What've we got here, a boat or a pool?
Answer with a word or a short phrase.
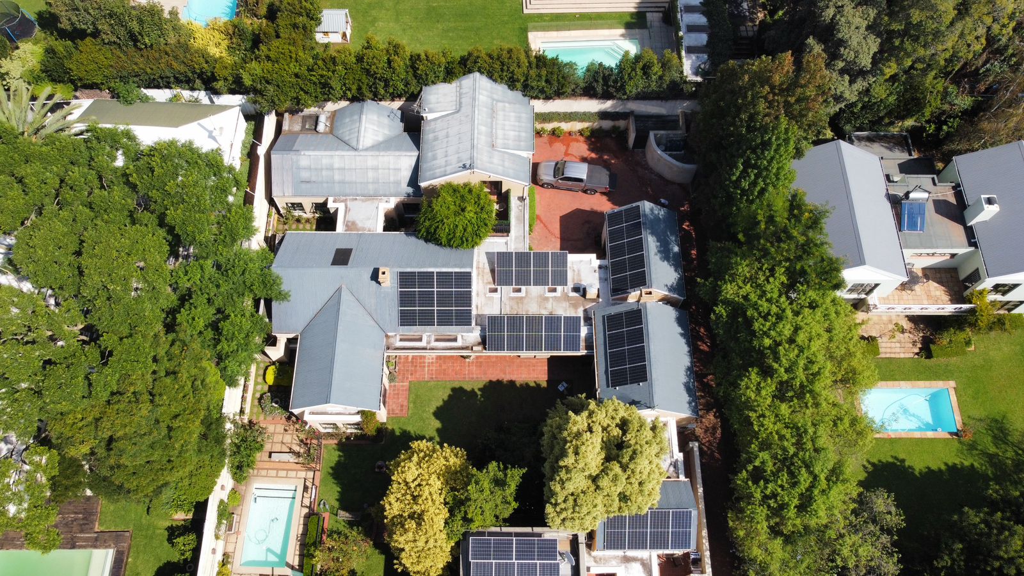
pool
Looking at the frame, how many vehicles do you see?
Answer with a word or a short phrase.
1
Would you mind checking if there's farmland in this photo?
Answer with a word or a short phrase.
No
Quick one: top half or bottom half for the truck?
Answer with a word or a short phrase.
top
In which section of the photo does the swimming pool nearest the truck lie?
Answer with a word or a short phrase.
top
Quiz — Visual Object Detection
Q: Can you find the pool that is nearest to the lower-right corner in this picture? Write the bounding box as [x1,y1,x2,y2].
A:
[853,380,970,441]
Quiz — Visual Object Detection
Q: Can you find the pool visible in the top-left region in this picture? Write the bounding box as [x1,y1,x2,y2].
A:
[176,0,239,24]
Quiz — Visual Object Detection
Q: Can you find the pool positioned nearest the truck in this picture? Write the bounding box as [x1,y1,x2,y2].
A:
[536,36,644,92]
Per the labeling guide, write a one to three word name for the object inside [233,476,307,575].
swimming pool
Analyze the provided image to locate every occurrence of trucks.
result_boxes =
[534,157,619,196]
